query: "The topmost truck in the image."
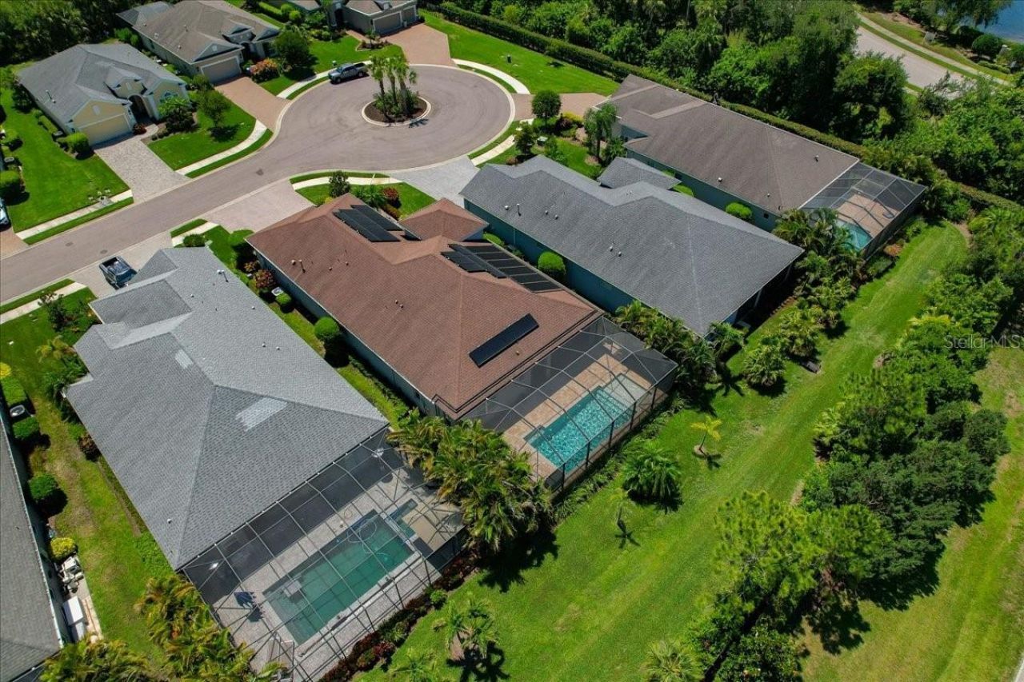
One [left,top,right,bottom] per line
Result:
[327,60,369,85]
